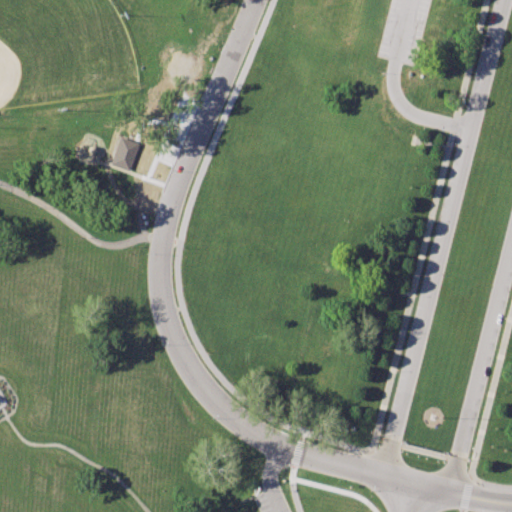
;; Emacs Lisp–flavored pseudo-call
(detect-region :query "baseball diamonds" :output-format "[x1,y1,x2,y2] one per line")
[0,0,140,111]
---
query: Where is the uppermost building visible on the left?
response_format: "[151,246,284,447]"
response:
[112,136,140,170]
